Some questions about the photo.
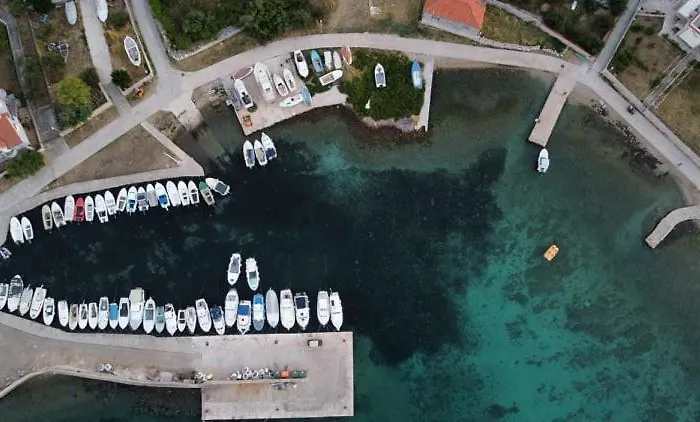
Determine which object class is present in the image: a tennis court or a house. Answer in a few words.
house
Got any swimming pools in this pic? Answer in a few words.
No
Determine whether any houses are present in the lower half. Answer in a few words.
No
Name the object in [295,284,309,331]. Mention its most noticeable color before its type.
white boat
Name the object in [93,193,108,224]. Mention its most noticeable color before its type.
white boat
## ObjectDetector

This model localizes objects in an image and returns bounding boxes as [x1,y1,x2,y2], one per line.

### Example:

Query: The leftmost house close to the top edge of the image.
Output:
[420,0,488,38]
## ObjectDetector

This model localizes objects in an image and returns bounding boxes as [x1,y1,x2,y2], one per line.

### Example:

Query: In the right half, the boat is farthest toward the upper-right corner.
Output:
[537,148,549,172]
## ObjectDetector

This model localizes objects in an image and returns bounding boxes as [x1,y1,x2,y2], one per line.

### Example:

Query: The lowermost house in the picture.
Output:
[0,106,36,170]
